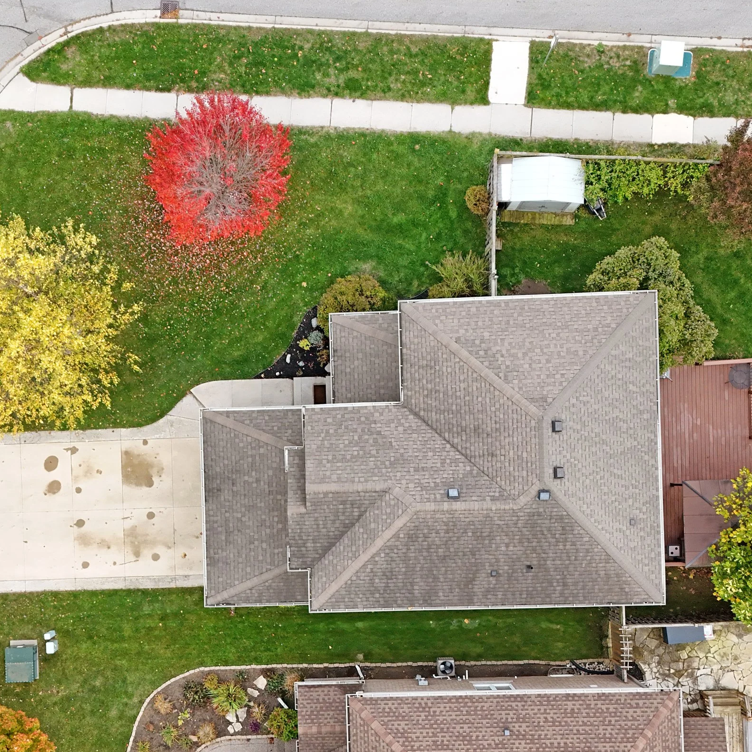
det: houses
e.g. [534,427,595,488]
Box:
[201,289,665,613]
[279,665,728,752]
